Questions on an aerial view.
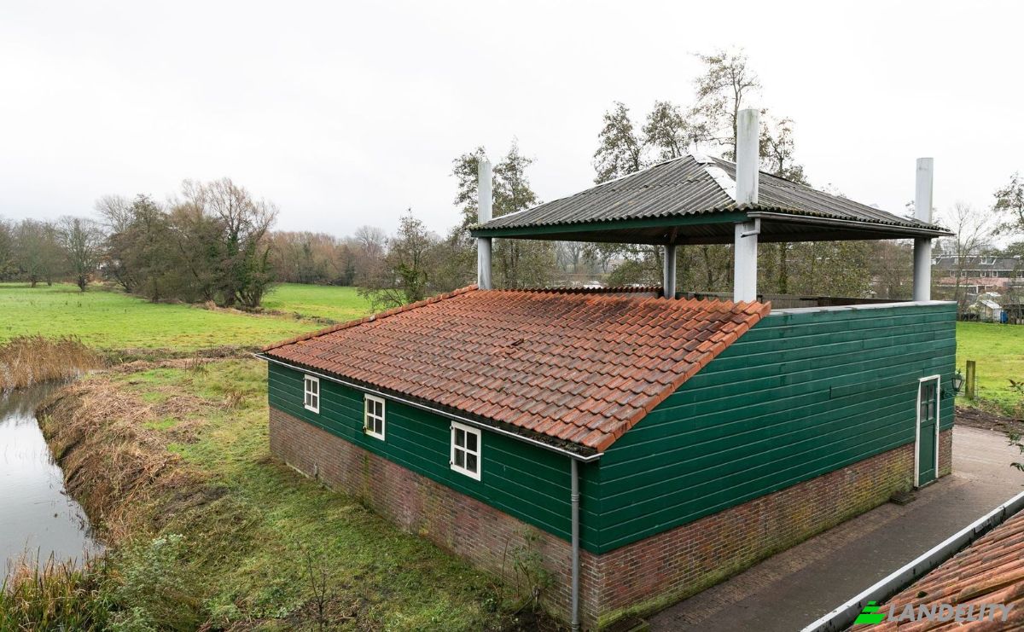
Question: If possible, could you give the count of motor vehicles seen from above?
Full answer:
Not a single motor vehicle can be seen.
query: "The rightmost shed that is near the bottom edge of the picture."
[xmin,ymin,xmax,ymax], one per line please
[796,495,1024,632]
